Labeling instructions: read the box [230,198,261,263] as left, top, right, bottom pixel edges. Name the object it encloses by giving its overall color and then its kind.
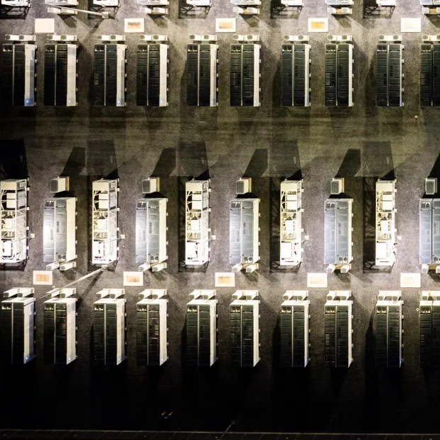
white shipping container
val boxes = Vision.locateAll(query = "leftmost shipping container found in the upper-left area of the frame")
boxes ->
[1,45,37,105]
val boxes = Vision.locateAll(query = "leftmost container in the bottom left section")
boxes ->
[0,297,34,364]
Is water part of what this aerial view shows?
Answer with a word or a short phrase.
No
